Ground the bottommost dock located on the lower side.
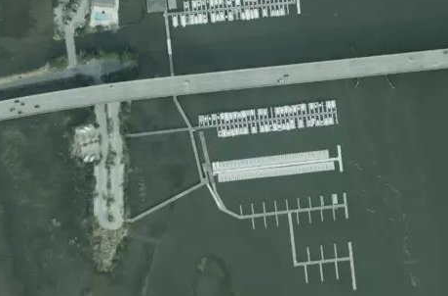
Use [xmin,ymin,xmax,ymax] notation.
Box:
[297,242,356,290]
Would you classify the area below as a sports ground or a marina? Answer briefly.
marina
